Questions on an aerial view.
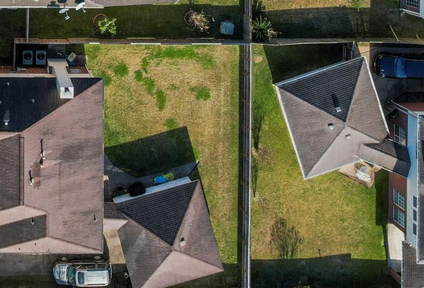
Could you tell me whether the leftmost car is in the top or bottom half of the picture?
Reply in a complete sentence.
You can find the leftmost car in the bottom half.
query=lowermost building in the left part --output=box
[105,175,225,288]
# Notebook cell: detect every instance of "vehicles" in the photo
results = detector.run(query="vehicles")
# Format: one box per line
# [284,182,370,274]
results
[51,255,113,287]
[369,52,424,82]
